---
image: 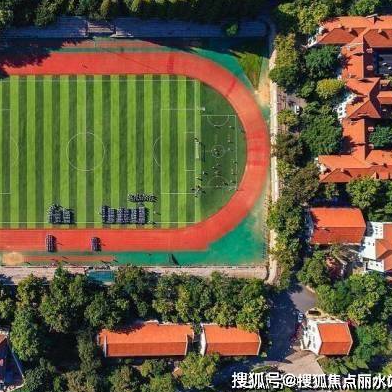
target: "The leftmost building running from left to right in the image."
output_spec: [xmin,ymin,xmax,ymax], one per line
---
[98,319,195,358]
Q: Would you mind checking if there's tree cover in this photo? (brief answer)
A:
Yes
